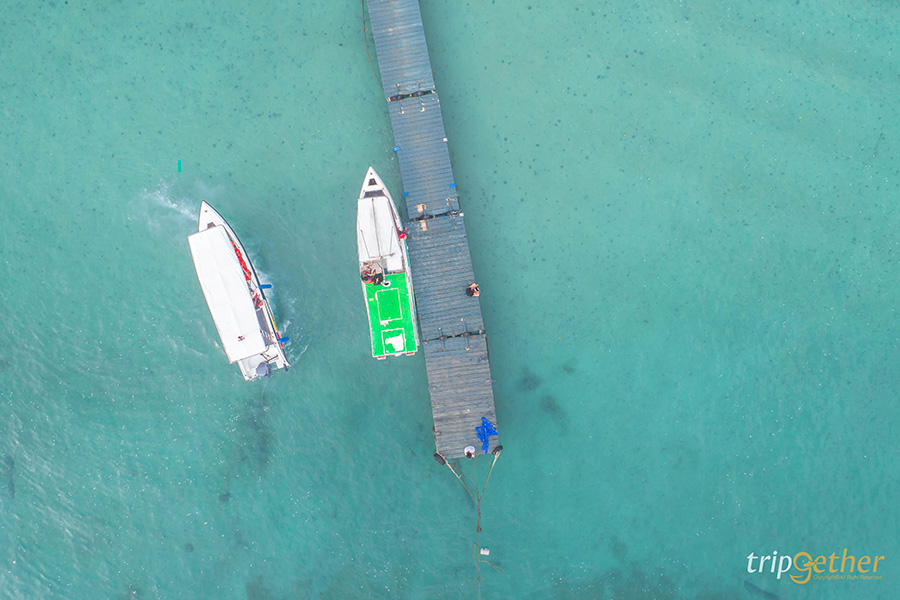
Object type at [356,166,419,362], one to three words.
boat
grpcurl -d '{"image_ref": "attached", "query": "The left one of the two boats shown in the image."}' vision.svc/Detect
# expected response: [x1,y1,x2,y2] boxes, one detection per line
[188,200,288,380]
